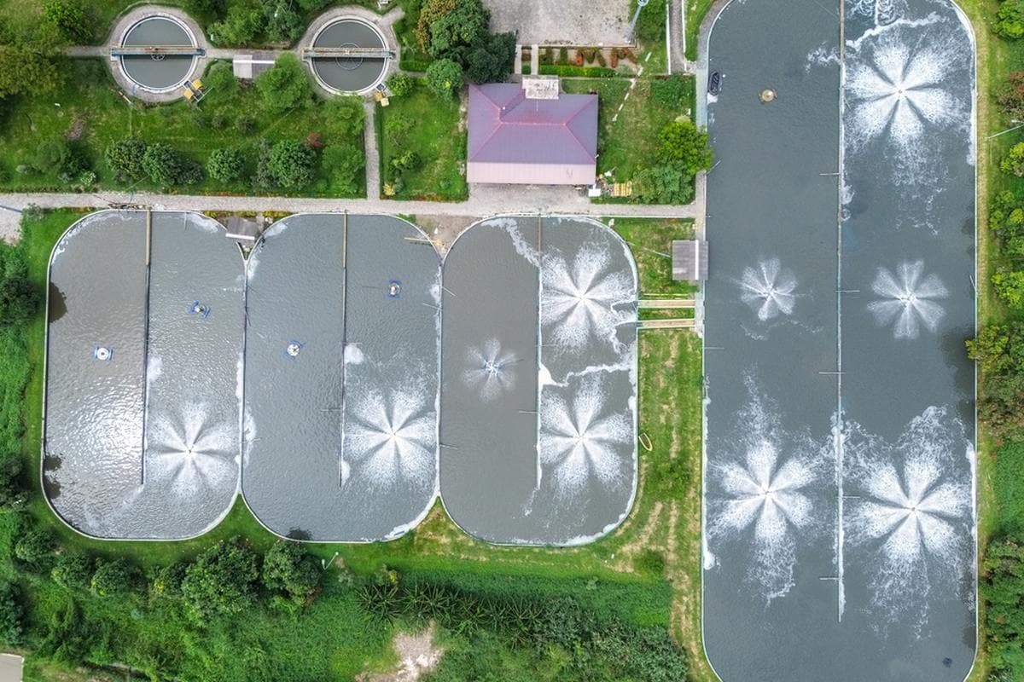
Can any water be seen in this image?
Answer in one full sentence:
Yes, water shows up in the scene.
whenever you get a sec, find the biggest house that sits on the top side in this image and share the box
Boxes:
[467,75,600,189]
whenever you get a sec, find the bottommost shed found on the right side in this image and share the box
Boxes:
[669,238,708,281]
